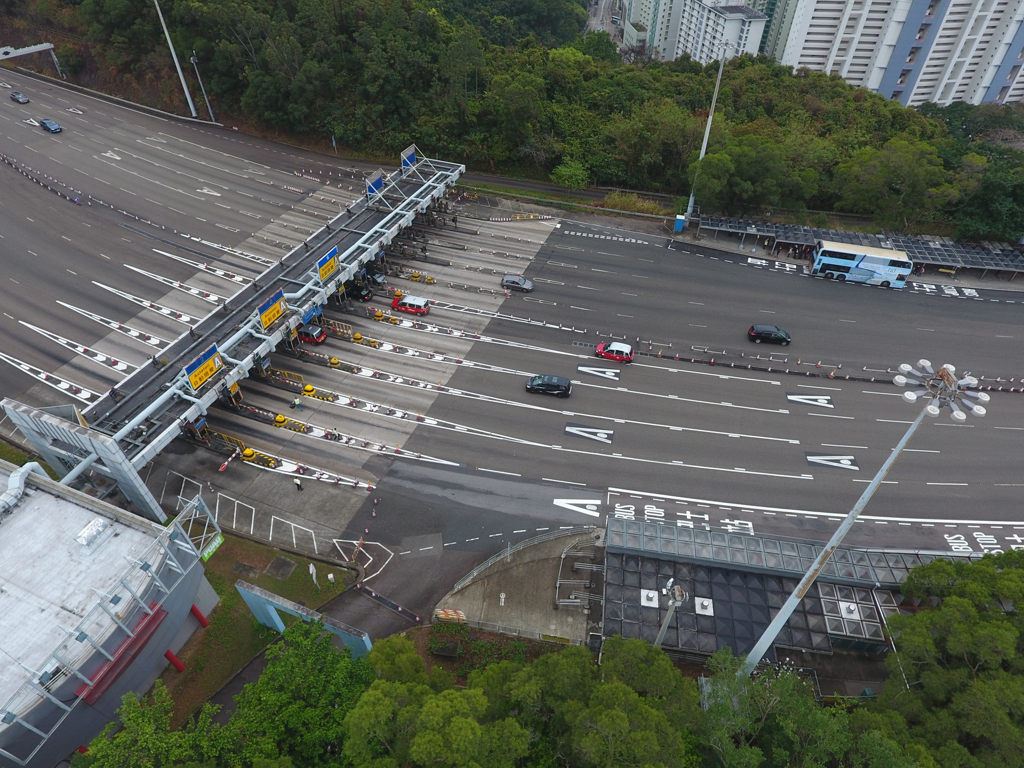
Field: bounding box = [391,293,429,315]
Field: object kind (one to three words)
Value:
car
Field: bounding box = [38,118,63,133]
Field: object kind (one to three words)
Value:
car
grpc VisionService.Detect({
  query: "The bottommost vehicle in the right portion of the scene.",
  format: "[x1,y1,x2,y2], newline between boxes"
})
[597,341,636,364]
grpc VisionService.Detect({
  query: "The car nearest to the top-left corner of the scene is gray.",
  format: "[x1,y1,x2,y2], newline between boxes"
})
[7,91,31,105]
